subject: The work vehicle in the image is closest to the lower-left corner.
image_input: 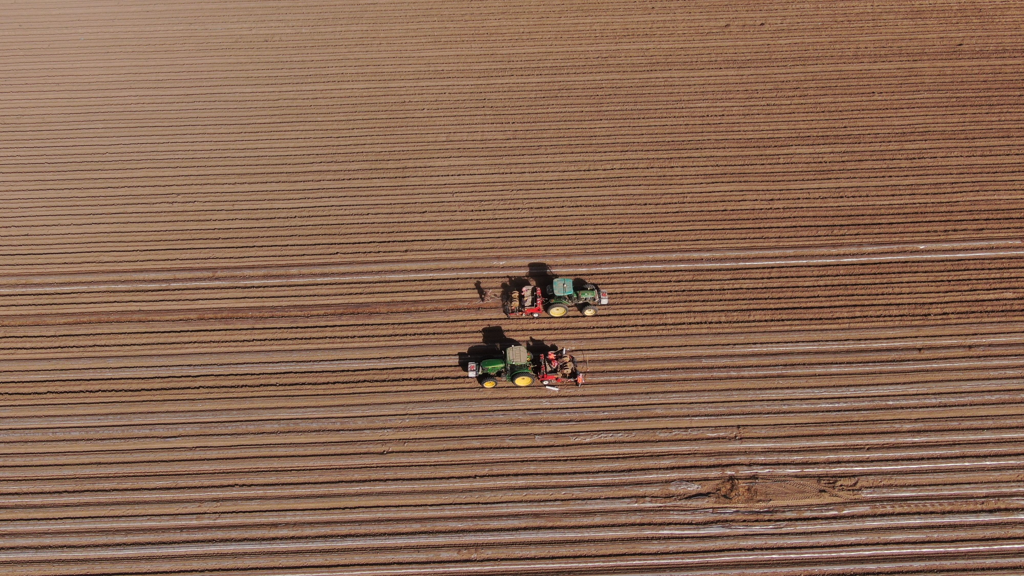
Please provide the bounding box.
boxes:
[468,344,538,388]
